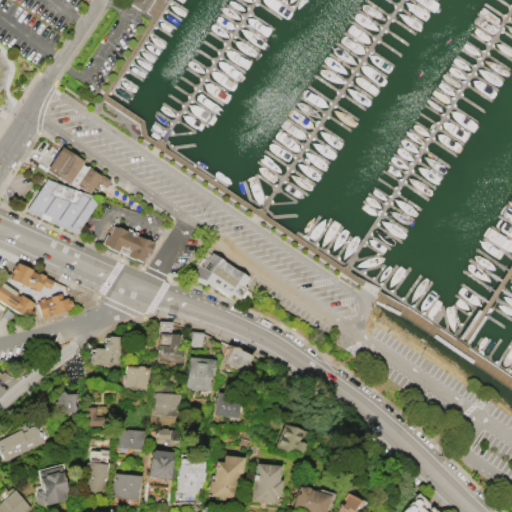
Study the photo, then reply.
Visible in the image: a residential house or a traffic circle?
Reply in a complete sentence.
Visible in the photo is a residential house.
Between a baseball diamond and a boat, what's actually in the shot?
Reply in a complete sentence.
Visible in the photo is a boat.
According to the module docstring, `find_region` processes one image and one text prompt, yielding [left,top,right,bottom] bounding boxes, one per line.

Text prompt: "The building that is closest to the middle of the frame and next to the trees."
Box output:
[198,252,250,298]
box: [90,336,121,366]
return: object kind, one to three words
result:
house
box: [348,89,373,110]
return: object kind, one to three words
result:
boat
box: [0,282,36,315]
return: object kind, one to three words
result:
building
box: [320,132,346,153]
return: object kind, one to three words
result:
boat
